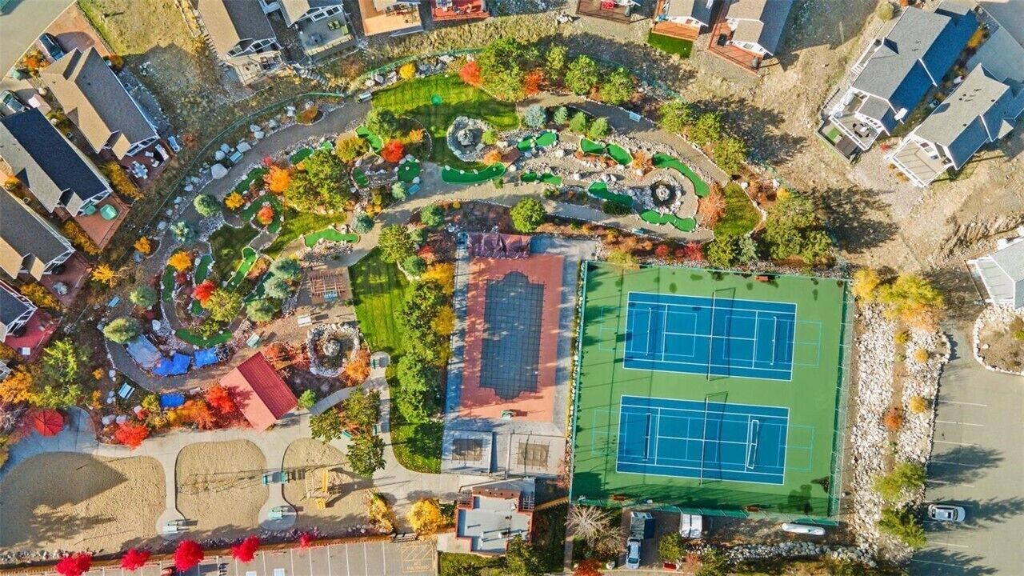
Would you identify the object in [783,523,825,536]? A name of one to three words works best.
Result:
boat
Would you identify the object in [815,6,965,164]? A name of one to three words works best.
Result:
house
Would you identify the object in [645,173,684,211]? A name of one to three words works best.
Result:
fountain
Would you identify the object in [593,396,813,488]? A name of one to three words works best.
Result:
tennis court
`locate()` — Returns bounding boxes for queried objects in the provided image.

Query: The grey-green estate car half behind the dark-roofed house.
[0,84,27,113]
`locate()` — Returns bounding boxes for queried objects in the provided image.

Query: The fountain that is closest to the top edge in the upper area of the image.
[444,116,490,161]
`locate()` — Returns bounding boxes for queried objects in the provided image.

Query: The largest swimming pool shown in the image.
[442,234,598,482]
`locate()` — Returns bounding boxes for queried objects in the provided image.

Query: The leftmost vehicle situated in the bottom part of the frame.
[626,539,642,571]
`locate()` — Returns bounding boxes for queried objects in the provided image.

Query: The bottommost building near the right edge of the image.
[961,229,1024,307]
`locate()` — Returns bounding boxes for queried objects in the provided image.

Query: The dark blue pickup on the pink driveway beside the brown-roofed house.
[32,27,66,64]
